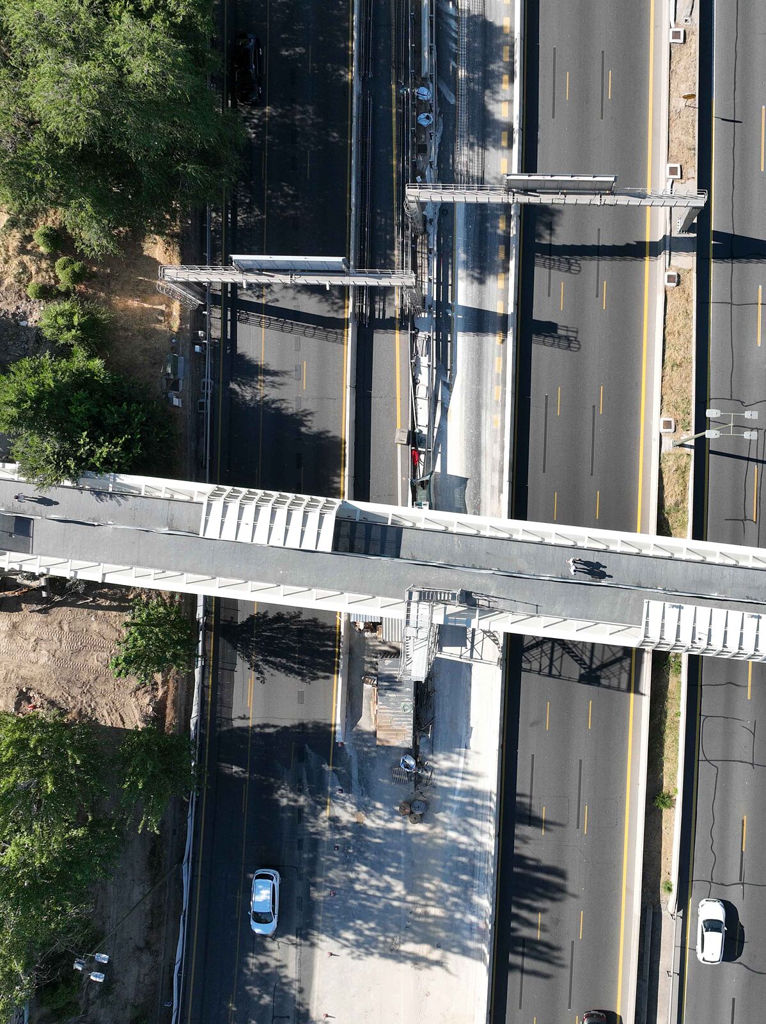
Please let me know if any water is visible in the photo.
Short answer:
No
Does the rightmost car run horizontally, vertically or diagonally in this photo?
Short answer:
vertically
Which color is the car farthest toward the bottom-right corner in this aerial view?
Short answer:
white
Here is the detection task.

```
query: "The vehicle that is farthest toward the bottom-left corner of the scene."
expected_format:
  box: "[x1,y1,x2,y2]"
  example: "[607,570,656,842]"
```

[248,867,280,934]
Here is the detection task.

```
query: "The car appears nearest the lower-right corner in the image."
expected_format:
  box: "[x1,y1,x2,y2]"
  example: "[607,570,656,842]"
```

[695,897,729,964]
